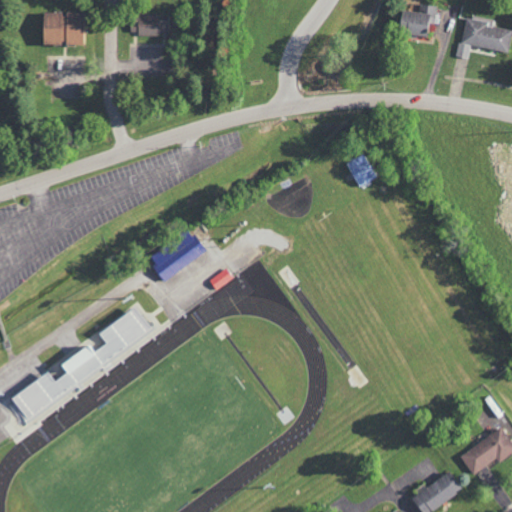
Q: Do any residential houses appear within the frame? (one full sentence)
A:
Yes, a residential house can be made out from above.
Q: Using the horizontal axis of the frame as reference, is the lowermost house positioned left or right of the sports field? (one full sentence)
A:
You can see the lowermost house positioned to the right of the sports field.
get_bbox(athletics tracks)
[0,260,327,512]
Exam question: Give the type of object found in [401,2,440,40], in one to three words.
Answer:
house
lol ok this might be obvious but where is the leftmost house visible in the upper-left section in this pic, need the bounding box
[43,11,86,46]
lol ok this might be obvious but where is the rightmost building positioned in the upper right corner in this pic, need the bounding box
[456,14,512,60]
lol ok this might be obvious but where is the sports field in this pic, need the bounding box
[28,327,285,512]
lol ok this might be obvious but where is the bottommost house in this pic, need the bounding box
[414,470,460,512]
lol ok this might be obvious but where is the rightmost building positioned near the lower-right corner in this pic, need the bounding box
[462,422,512,474]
